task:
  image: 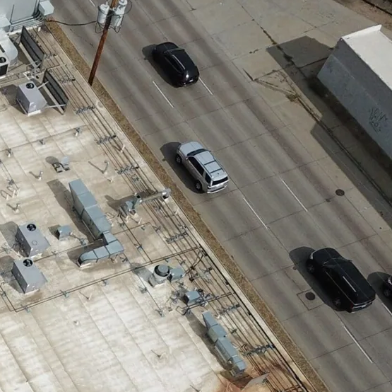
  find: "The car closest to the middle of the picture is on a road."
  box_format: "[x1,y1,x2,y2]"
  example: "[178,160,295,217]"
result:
[177,141,233,193]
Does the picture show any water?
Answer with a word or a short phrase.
No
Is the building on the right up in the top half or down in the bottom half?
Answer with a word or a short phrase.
top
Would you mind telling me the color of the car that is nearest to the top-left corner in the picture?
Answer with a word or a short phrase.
black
